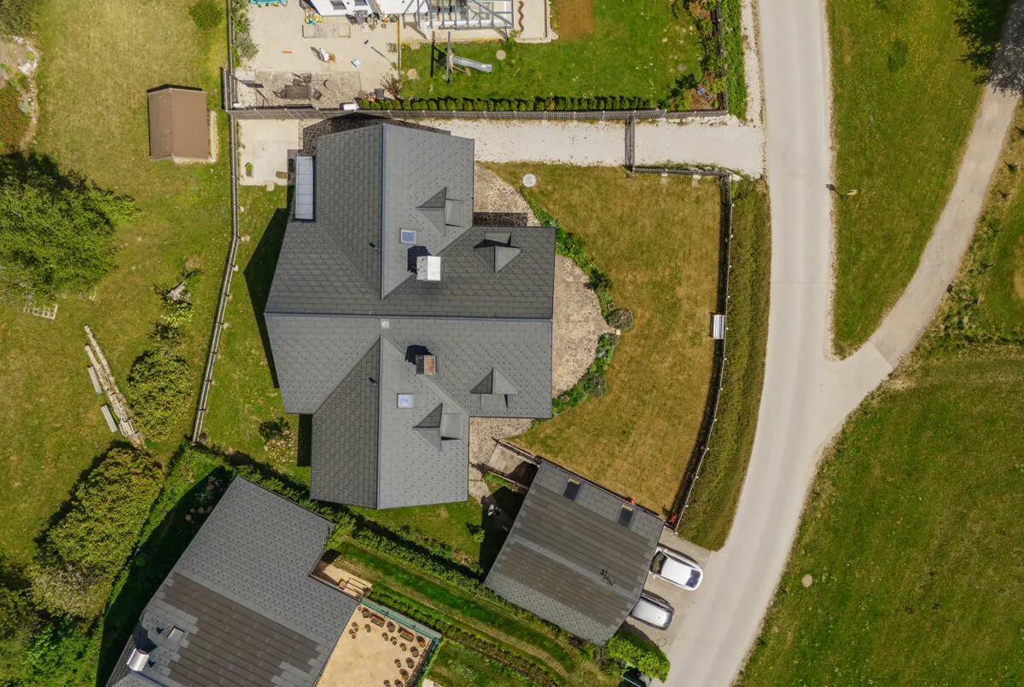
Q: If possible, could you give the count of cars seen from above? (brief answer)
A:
2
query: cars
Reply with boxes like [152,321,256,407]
[624,587,674,629]
[645,543,705,593]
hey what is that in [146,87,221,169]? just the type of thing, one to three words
shed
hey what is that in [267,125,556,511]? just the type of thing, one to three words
house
